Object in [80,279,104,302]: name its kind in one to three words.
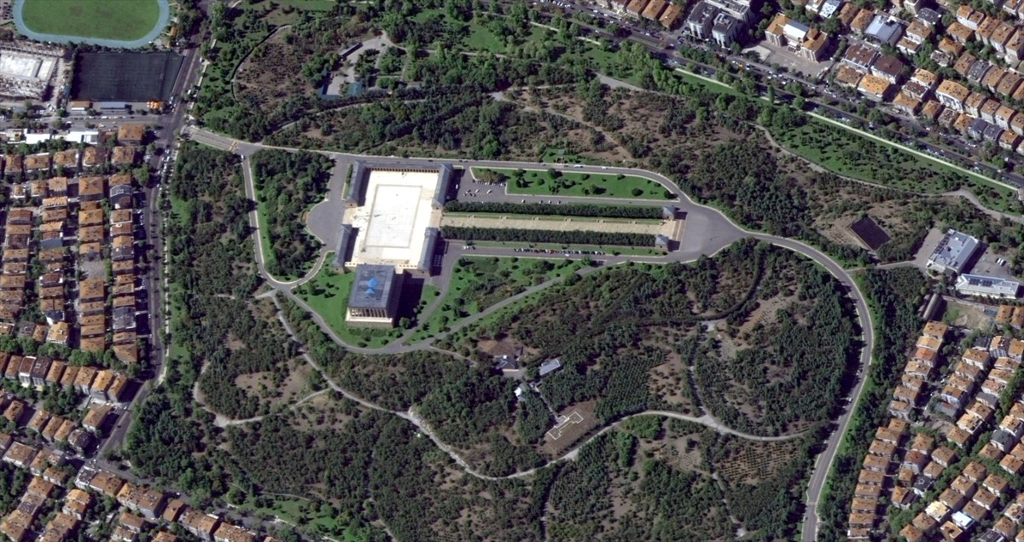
building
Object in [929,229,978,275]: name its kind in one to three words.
building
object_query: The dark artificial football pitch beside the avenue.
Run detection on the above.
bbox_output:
[71,53,183,101]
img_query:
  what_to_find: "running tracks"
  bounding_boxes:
[13,0,169,47]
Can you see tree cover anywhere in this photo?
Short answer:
Yes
